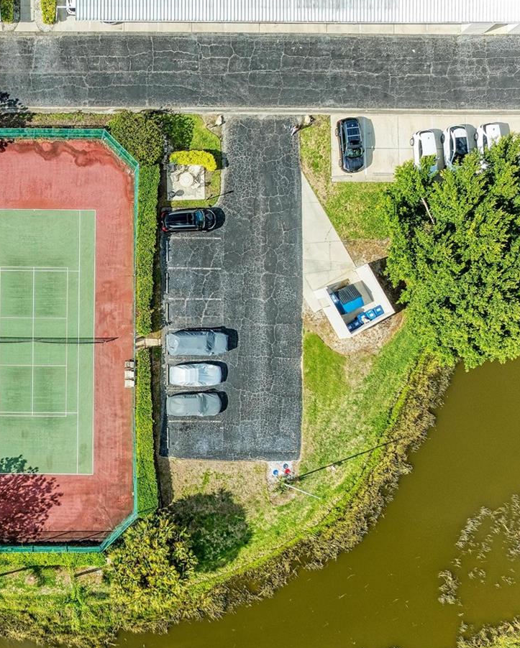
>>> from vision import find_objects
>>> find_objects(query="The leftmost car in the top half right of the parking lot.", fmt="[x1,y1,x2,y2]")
[338,116,368,172]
